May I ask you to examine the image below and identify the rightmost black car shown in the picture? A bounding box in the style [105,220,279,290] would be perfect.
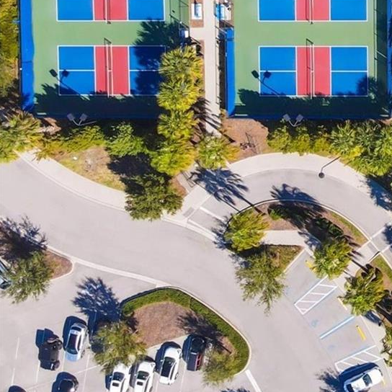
[182,331,207,372]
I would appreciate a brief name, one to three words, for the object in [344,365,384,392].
car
